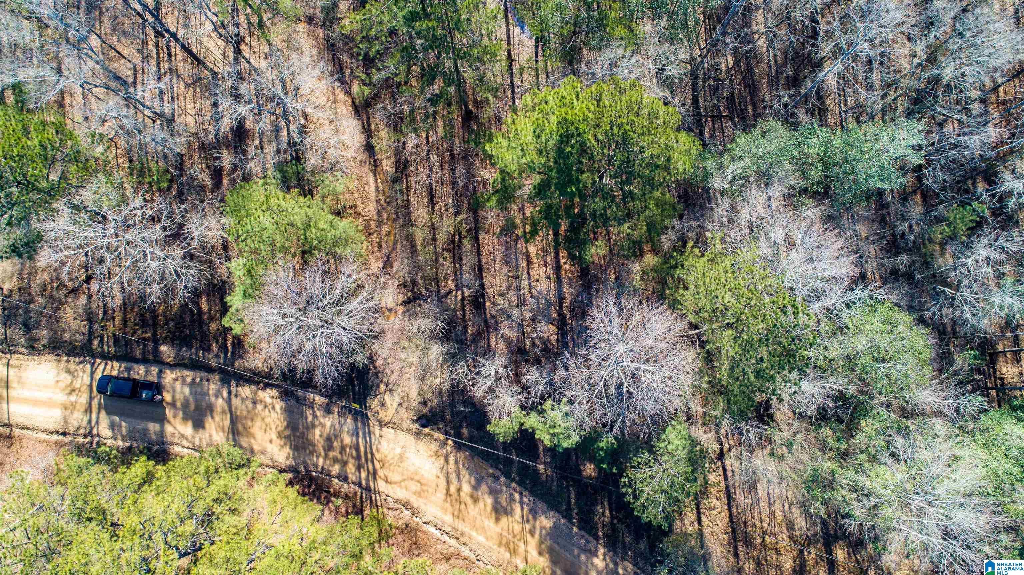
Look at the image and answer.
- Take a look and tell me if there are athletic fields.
No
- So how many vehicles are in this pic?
1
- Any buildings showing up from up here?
No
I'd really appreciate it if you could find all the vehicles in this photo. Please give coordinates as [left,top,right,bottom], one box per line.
[93,375,163,404]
